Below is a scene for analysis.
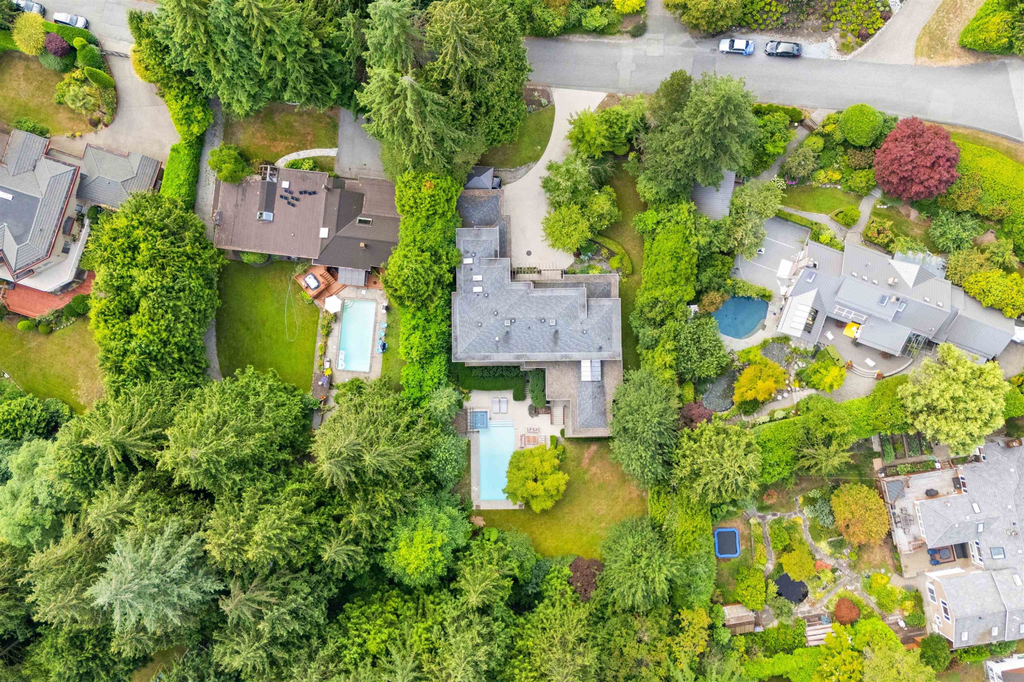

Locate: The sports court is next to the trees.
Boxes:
[728,215,811,303]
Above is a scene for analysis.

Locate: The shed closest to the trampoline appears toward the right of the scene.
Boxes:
[722,604,754,635]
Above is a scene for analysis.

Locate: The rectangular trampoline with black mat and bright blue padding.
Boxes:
[716,529,742,560]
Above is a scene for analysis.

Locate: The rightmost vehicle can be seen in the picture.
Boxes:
[764,40,804,57]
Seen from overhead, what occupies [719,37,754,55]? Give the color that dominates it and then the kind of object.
white car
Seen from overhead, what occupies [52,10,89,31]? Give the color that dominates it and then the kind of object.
white car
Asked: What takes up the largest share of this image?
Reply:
trees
